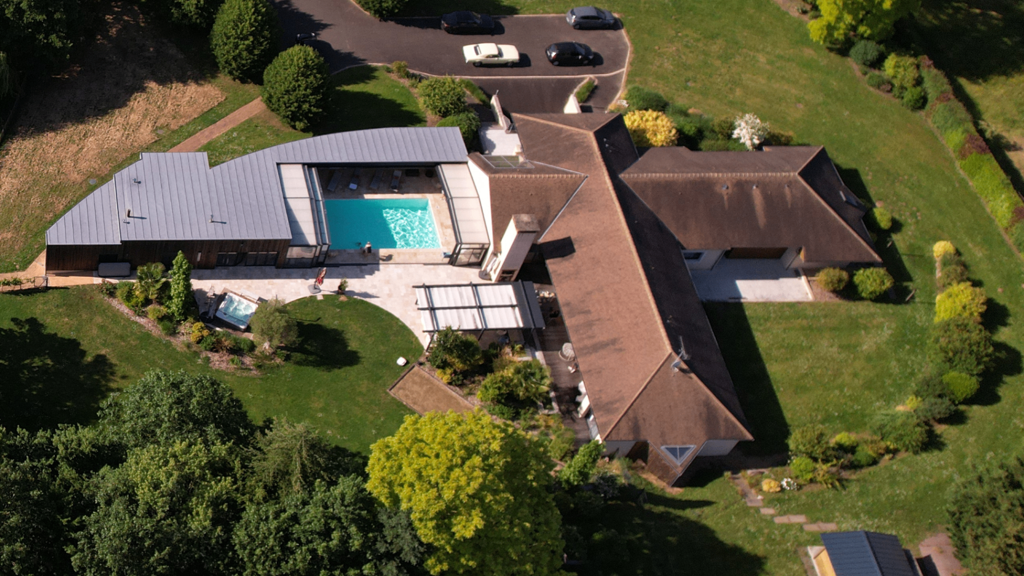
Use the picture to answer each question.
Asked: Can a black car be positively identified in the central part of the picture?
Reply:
No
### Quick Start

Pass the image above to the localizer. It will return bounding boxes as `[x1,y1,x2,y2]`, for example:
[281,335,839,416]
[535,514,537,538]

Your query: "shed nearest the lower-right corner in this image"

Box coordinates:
[803,530,915,576]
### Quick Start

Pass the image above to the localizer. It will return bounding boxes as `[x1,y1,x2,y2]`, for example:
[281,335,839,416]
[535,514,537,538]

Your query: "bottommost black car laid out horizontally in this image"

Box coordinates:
[543,39,595,63]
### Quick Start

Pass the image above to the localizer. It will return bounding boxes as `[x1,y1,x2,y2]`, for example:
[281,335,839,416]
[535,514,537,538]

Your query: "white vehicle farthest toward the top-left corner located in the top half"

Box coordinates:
[460,41,522,65]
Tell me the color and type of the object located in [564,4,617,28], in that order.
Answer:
gray car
